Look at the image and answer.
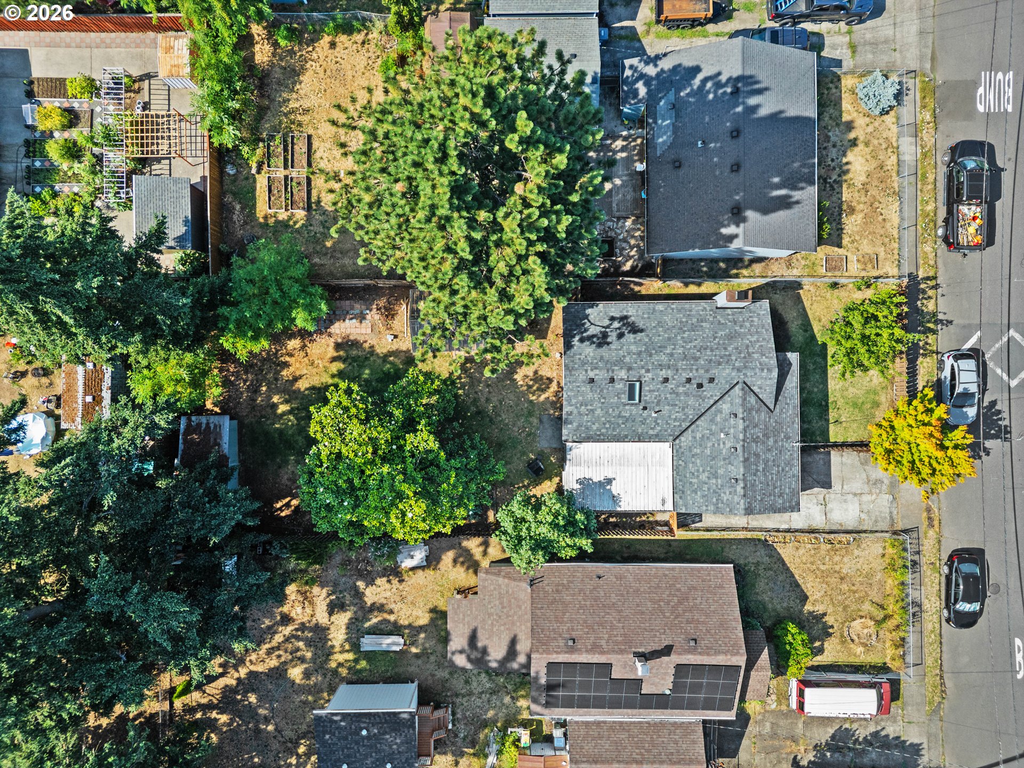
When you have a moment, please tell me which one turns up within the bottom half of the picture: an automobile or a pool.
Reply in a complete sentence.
You can see an automobile within the bottom half of the picture.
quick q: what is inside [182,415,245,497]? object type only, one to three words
shed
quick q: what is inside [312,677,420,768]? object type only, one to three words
house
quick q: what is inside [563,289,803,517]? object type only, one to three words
house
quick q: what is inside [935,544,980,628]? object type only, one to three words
car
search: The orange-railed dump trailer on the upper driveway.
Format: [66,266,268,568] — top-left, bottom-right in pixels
[654,0,733,32]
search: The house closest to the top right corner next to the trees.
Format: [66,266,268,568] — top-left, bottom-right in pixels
[618,38,820,254]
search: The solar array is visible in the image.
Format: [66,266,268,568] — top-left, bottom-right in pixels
[545,663,740,709]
